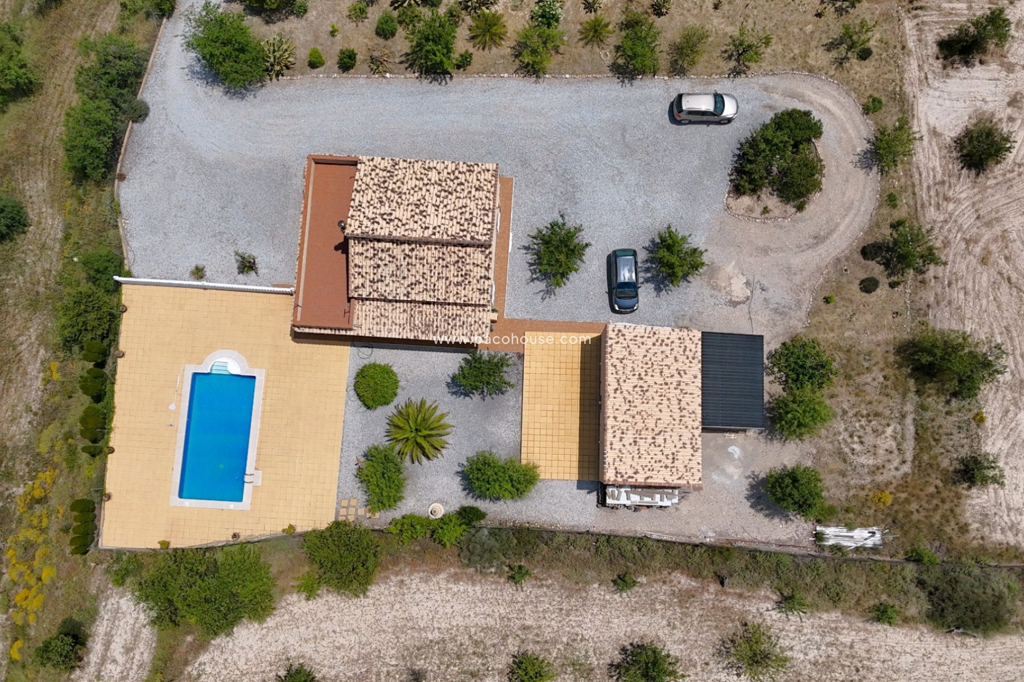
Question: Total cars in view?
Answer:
2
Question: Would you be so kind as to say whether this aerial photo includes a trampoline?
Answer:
No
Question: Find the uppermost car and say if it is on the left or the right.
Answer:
right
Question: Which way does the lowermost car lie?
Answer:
vertically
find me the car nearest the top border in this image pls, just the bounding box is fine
[677,93,742,128]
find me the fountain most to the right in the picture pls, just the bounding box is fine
[427,502,444,519]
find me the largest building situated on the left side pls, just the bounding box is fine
[292,155,500,346]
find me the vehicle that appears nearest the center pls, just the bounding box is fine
[611,249,644,314]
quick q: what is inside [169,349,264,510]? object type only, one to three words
swimming pool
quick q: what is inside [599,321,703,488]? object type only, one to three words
shed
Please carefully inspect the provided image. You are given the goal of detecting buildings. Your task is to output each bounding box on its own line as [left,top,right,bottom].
[292,155,500,346]
[599,321,703,488]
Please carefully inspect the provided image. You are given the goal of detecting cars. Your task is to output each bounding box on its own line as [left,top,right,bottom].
[611,249,644,314]
[677,93,742,128]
